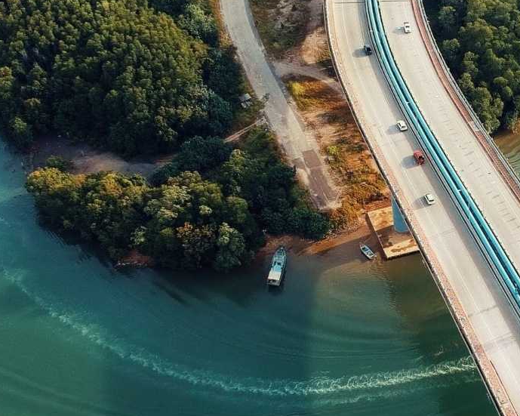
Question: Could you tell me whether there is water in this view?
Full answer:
Yes, water can be seen from above here.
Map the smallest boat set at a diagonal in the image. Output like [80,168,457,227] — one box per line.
[361,244,377,261]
